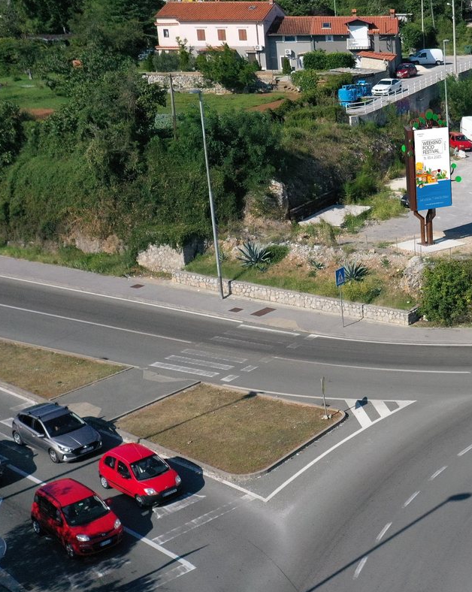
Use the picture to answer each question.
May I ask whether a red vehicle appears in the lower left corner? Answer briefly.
Yes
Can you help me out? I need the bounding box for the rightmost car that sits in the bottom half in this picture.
[103,437,178,500]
